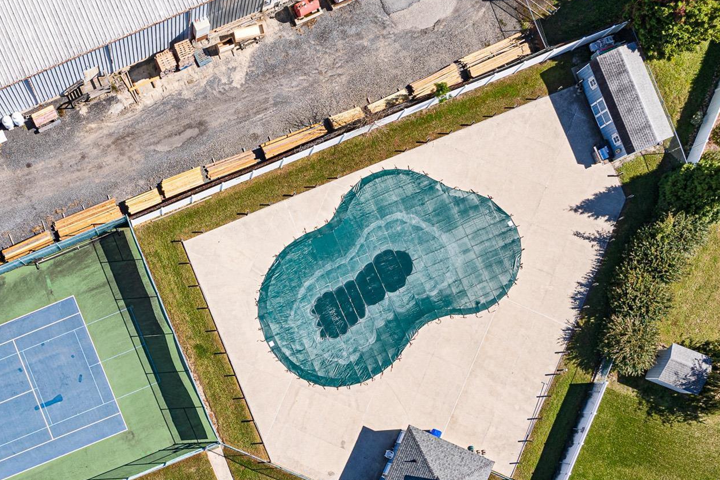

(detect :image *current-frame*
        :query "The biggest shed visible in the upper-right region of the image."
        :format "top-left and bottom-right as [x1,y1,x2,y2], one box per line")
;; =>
[574,40,678,161]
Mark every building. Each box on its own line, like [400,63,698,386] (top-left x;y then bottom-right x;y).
[0,0,264,122]
[647,343,712,395]
[381,425,496,480]
[574,40,678,161]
